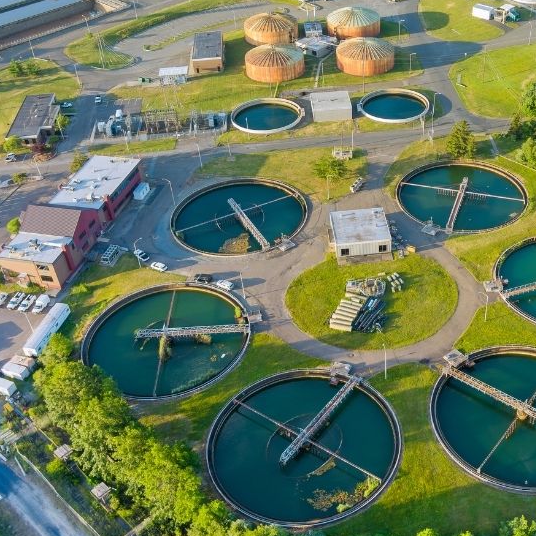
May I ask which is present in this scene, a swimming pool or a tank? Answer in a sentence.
It is a tank that can be seen here.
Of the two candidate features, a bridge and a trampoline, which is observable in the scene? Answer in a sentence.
The image shows a bridge.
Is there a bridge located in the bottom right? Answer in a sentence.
Yes, in the bottom right there is a bridge.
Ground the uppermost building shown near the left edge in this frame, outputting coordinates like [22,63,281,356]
[6,94,61,147]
